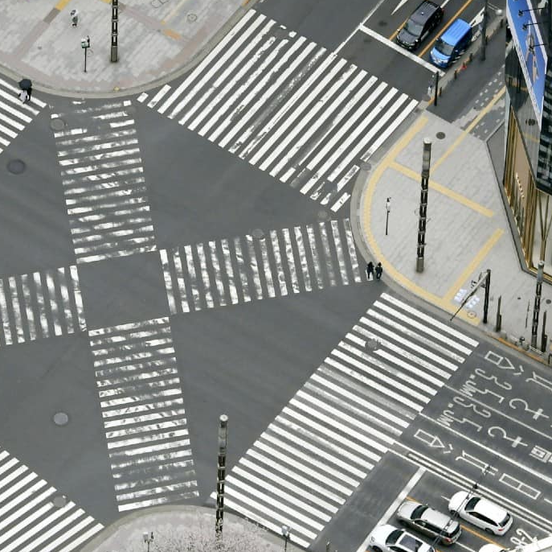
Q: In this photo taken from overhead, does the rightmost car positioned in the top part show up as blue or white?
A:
blue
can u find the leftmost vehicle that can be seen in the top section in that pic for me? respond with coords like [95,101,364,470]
[394,0,446,50]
